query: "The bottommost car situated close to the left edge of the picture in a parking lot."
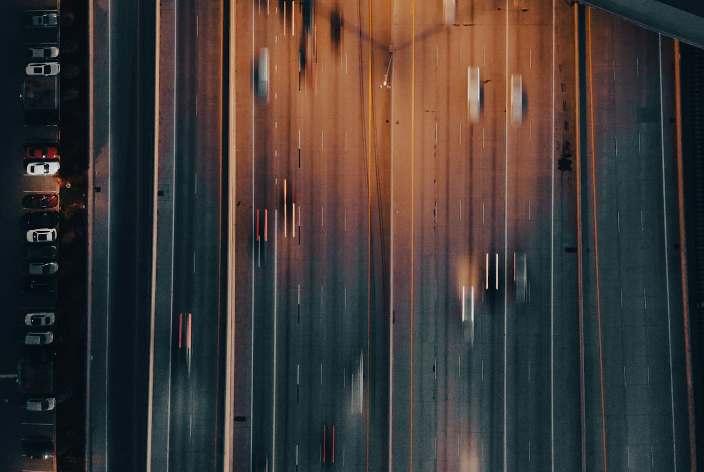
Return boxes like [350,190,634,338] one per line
[21,440,55,457]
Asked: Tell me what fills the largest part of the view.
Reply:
paved ground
